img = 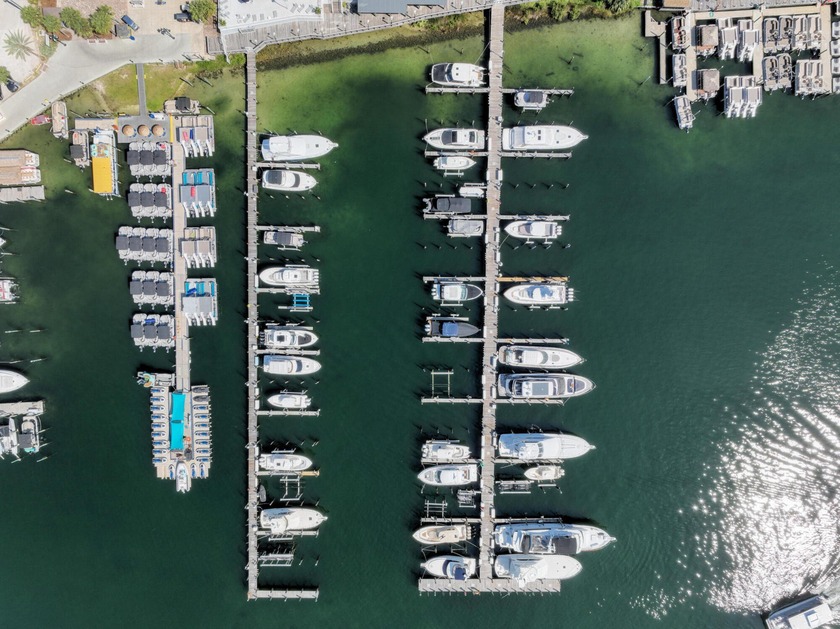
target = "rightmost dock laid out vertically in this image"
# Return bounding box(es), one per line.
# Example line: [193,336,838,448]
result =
[418,6,574,595]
